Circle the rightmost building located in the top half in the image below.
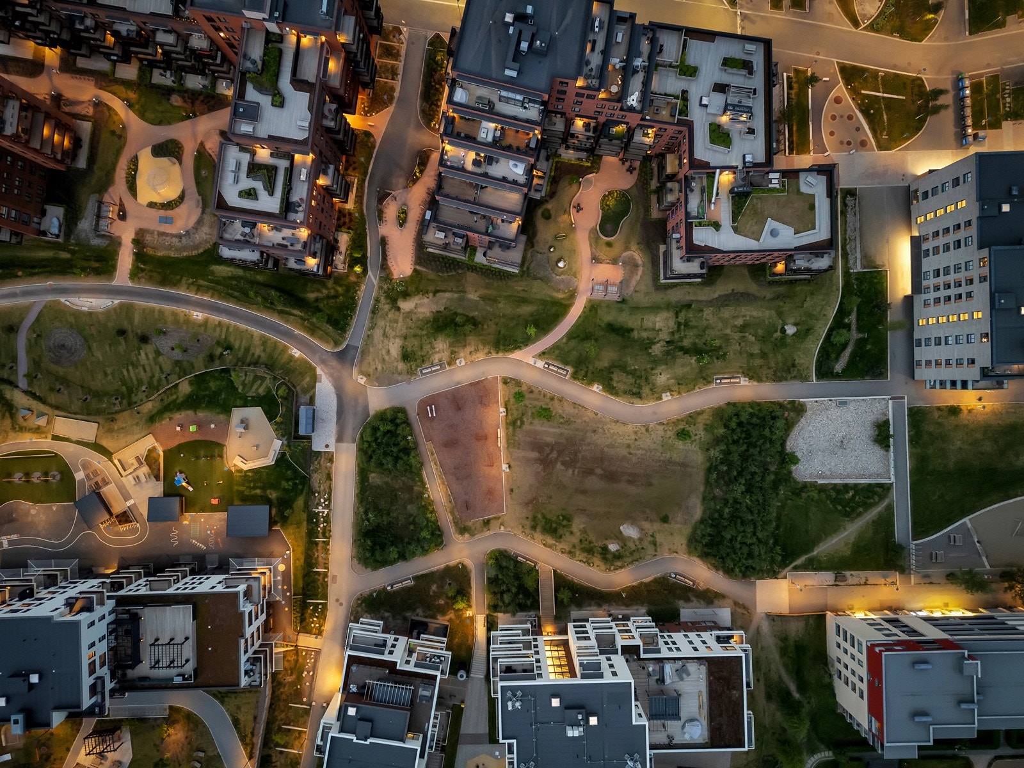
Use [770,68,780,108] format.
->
[909,152,1024,393]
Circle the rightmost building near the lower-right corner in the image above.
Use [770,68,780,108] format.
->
[827,610,1024,759]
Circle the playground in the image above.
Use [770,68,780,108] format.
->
[0,442,290,632]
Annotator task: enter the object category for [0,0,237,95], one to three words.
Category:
building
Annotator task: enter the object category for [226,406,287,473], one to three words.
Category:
building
